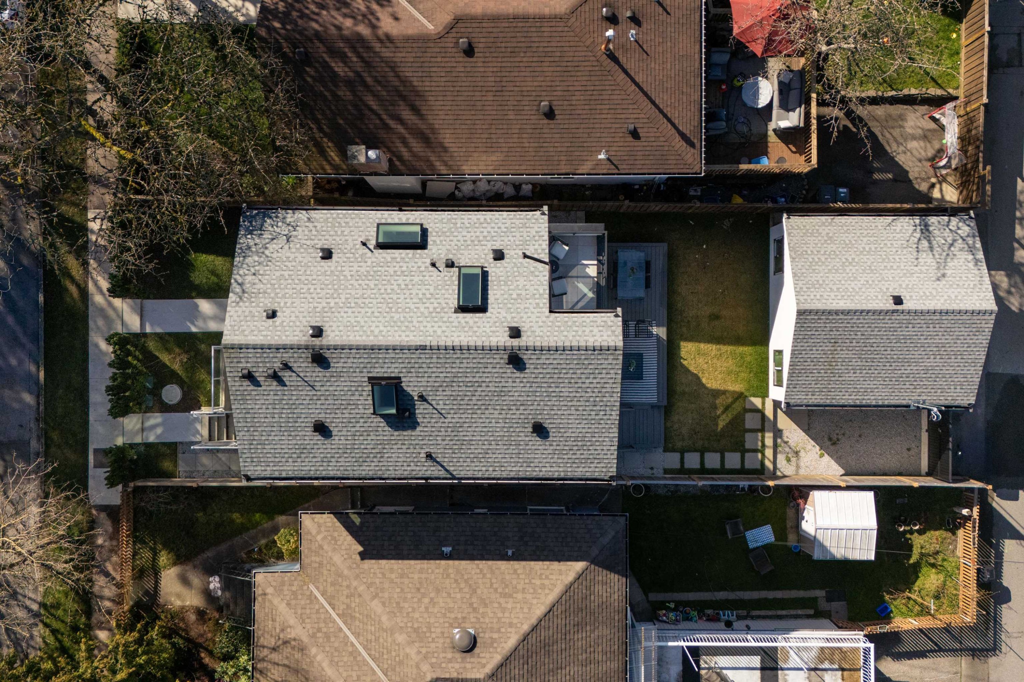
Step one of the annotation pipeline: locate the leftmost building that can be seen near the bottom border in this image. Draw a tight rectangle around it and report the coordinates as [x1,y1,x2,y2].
[219,505,631,682]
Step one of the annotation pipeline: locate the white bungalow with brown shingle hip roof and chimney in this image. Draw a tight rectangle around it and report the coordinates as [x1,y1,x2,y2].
[260,0,708,201]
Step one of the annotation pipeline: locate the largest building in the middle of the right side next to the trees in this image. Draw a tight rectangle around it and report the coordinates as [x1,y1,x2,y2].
[767,209,994,429]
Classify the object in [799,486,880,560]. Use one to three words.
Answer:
shed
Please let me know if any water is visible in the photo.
No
